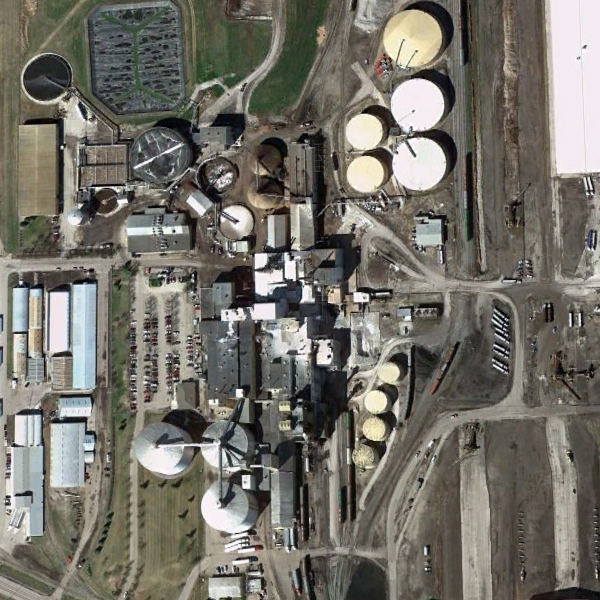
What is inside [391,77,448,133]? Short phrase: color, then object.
white storage tank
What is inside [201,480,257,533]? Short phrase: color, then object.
white silo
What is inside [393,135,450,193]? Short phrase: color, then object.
white storage tank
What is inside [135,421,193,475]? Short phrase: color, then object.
white silo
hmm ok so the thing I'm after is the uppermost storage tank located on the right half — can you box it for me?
[384,8,445,69]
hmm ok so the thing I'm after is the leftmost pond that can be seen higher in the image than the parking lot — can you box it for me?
[87,0,188,115]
